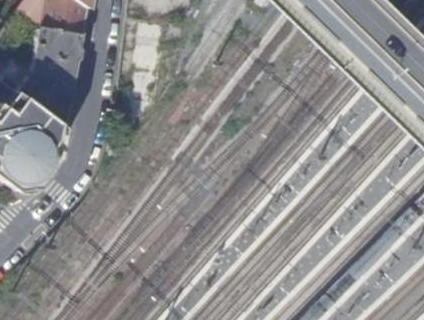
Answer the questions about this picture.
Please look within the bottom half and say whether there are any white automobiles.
Yes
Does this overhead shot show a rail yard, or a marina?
rail yard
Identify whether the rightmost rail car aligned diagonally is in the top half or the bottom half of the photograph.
bottom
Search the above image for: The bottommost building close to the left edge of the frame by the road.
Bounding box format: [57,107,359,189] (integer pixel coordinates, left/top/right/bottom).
[0,98,75,196]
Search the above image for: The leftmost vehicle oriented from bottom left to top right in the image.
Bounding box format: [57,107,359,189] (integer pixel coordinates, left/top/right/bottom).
[4,250,24,271]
